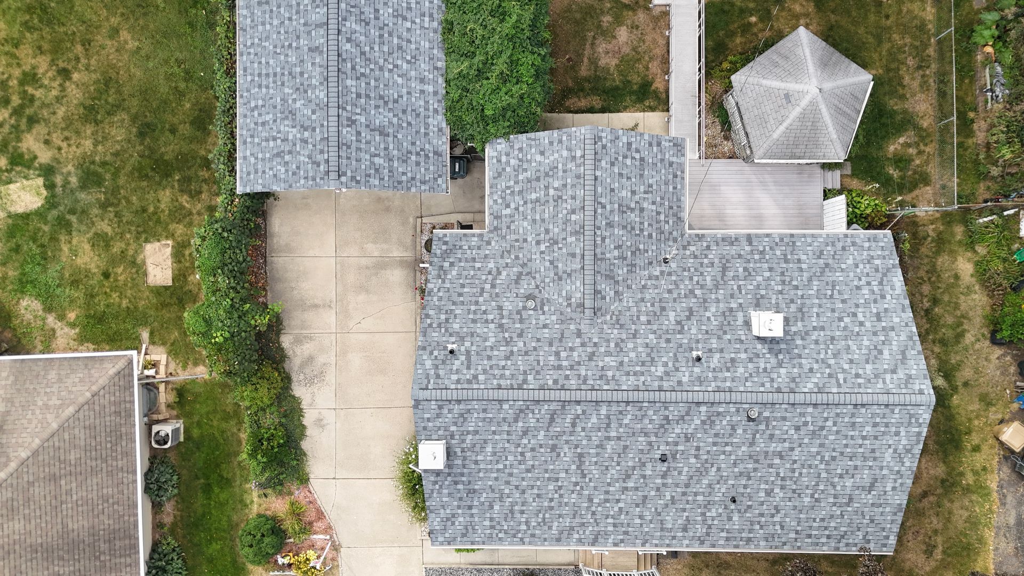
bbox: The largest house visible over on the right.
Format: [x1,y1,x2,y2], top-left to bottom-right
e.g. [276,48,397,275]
[409,127,936,555]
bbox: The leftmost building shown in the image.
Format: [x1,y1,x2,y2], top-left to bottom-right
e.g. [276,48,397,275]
[0,350,153,576]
